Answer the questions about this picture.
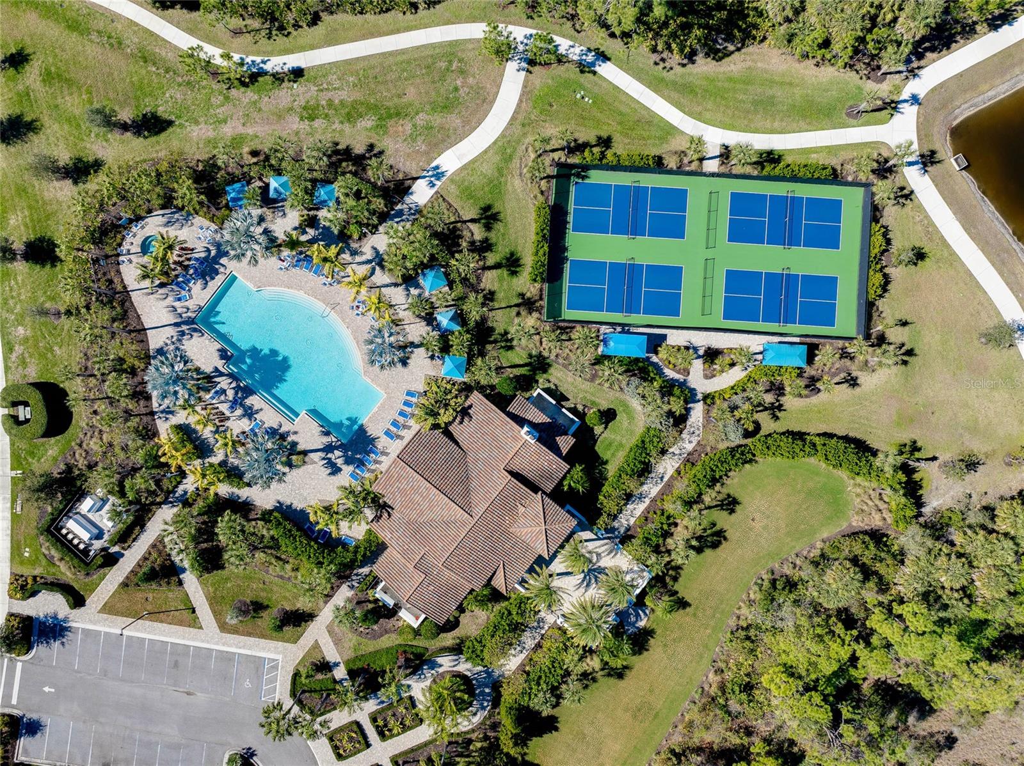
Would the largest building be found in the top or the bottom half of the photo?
bottom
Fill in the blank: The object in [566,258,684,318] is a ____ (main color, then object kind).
blue sports court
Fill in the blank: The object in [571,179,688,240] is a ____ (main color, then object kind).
blue sports court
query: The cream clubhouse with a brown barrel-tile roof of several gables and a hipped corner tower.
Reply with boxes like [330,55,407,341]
[369,390,580,630]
